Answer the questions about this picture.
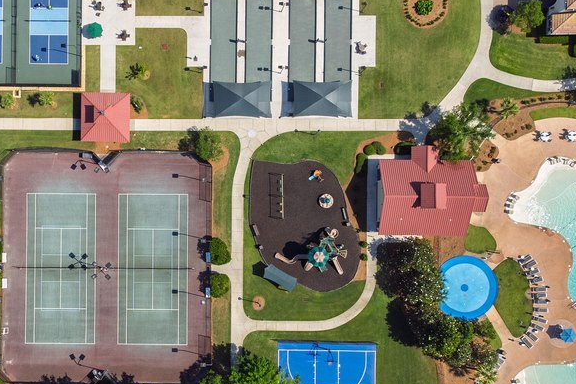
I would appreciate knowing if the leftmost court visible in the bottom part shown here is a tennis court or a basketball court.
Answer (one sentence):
I'd say the leftmost court visible in the bottom part is a tennis court.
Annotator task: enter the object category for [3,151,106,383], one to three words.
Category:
tennis court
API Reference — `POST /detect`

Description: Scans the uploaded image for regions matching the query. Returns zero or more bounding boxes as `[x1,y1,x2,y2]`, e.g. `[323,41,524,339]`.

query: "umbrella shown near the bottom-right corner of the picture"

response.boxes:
[557,328,575,343]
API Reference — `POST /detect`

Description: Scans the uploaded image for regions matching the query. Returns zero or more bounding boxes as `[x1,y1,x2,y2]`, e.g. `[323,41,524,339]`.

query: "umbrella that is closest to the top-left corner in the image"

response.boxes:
[84,21,103,40]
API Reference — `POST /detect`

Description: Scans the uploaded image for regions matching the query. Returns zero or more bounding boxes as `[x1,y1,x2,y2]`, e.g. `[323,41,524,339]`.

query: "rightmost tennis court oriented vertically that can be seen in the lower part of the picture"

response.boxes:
[105,152,211,383]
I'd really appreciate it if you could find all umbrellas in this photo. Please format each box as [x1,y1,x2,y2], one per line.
[557,328,575,343]
[84,21,103,40]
